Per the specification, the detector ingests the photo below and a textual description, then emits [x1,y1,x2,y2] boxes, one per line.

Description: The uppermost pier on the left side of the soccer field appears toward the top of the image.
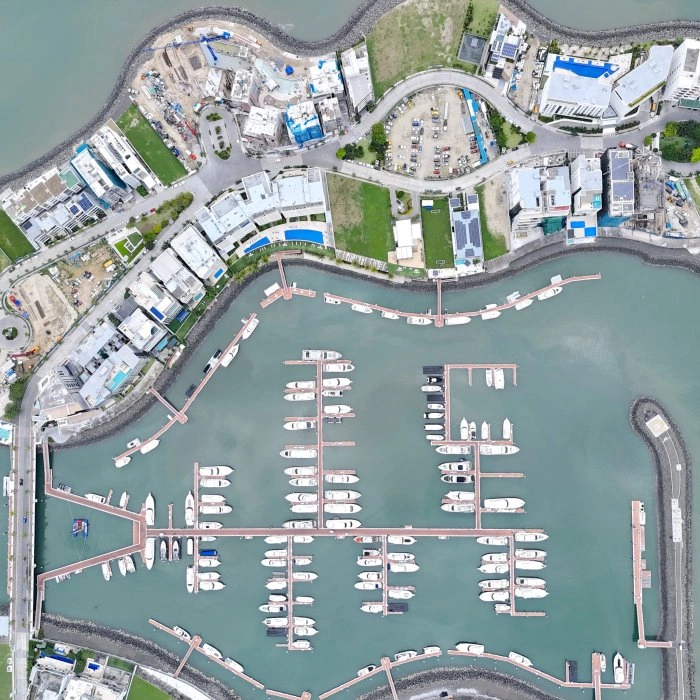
[261,250,317,307]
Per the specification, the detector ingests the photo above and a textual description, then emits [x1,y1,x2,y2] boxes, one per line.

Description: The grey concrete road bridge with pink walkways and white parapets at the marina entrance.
[12,418,37,650]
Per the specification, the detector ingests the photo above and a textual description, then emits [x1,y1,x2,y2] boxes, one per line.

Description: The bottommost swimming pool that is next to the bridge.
[40,651,76,664]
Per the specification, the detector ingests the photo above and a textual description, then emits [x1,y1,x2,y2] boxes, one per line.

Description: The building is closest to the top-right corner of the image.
[665,38,700,102]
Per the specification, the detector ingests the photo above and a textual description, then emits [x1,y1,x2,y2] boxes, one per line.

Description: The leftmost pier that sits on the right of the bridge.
[35,444,145,634]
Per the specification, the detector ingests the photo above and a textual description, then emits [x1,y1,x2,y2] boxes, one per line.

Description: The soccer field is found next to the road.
[422,196,456,269]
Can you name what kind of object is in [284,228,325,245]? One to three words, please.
swimming pool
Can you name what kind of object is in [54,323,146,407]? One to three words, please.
building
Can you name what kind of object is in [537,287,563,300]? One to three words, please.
boat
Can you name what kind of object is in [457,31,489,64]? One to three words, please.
sports court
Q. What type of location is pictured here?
port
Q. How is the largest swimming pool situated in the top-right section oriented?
from left to right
